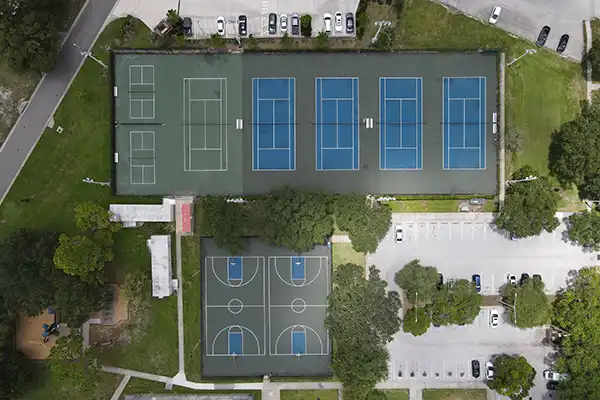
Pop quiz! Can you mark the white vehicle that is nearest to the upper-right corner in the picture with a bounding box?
[488,5,502,25]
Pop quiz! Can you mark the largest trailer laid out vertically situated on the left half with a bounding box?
[148,235,181,297]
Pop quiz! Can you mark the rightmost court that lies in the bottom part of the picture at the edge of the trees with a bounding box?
[268,257,328,355]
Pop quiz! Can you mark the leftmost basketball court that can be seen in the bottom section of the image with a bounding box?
[206,257,265,355]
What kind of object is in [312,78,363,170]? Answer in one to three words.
tennis court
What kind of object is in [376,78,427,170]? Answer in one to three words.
tennis court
